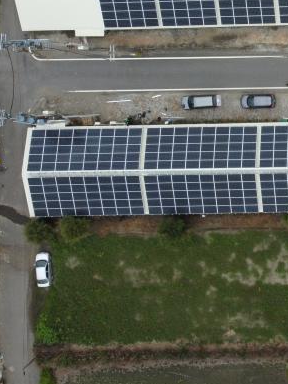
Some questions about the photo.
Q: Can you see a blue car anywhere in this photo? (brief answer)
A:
No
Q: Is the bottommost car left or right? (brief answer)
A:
left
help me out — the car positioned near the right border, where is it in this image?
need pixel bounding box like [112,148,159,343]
[241,93,276,110]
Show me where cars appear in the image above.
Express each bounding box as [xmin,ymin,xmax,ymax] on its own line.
[241,93,276,110]
[183,93,222,110]
[33,250,53,288]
